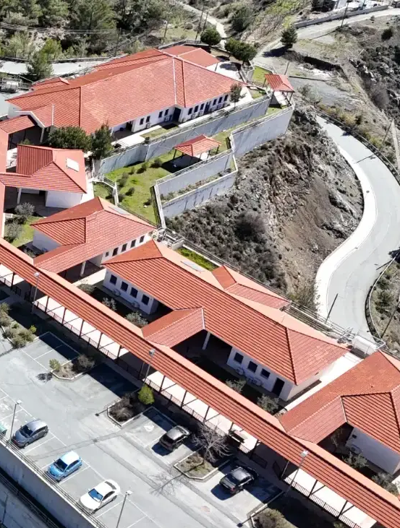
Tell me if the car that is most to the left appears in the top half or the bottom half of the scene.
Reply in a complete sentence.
The bottom half of the photo is where the car that is most to the left is.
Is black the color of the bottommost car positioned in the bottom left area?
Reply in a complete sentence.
No, the bottommost car positioned in the bottom left area is white.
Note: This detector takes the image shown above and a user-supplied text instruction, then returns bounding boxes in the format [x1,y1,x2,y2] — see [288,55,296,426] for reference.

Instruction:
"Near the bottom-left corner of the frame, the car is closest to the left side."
[14,418,51,449]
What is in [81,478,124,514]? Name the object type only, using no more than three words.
car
